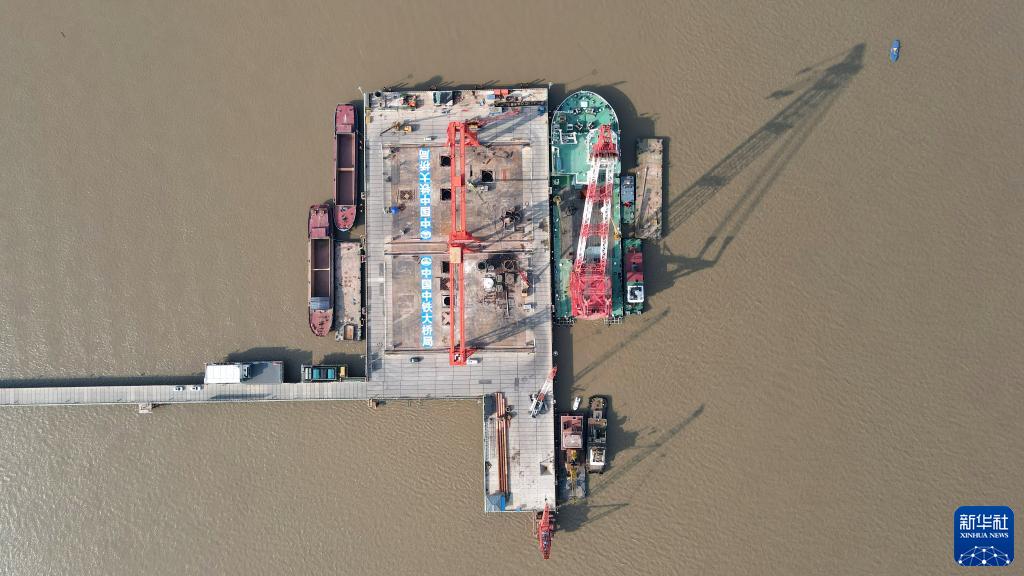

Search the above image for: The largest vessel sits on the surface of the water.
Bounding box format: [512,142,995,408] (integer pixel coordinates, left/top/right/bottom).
[549,90,622,328]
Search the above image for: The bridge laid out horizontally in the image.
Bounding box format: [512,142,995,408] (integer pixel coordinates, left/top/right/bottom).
[0,382,368,407]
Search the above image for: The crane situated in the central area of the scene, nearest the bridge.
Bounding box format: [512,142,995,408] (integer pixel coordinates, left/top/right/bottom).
[443,244,482,365]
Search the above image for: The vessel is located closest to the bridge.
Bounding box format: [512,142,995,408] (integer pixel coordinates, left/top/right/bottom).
[307,204,335,337]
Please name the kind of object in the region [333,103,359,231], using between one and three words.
ship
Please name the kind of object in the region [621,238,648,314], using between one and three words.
boat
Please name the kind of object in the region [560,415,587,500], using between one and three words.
ship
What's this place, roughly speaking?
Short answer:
port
